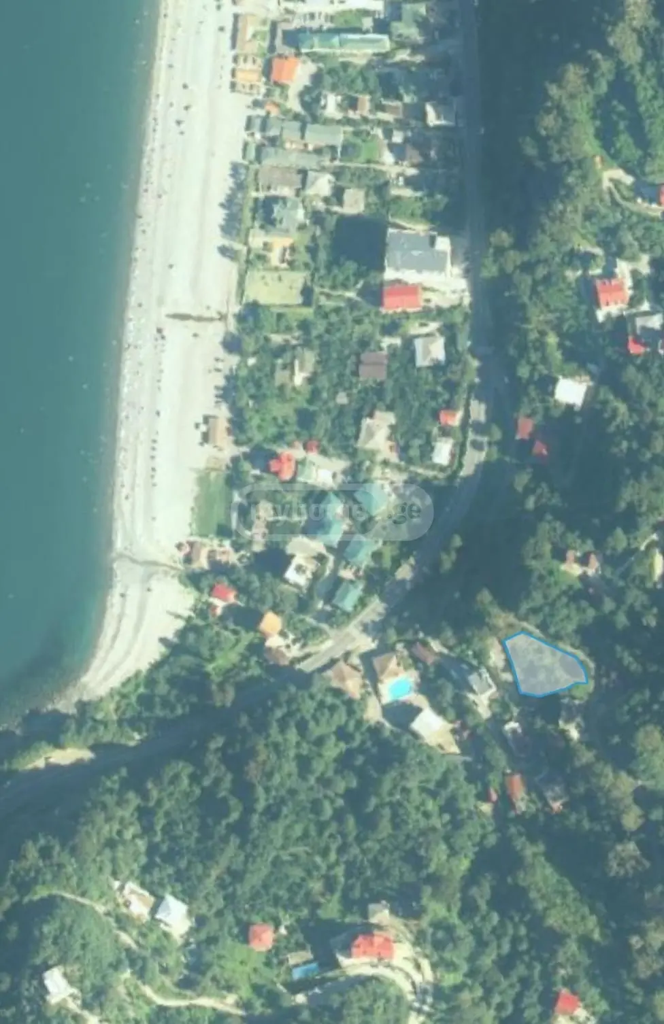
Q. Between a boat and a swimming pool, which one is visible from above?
swimming pool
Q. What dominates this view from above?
trees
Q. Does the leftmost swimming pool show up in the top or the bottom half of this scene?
bottom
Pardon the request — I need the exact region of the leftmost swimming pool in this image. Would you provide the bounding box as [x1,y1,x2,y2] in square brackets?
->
[290,960,320,980]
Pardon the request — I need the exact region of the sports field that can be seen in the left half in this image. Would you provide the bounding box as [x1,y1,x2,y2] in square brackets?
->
[195,471,231,536]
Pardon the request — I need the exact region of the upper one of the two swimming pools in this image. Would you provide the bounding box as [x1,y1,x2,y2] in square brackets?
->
[388,676,413,701]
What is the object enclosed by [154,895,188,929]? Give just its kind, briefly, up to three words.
house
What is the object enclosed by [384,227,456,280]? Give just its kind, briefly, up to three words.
building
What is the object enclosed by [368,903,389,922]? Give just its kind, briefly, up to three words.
shed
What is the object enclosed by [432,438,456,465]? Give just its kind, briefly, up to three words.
house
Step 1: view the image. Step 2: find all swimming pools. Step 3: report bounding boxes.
[290,960,320,980]
[388,676,413,701]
